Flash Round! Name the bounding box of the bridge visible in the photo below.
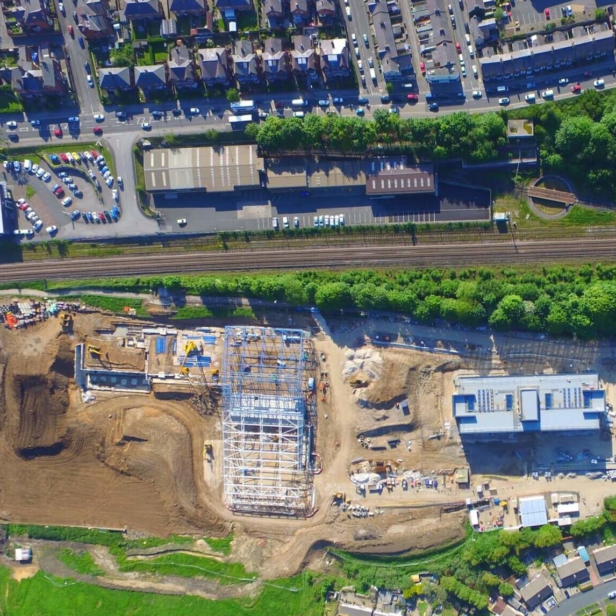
[528,186,575,206]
